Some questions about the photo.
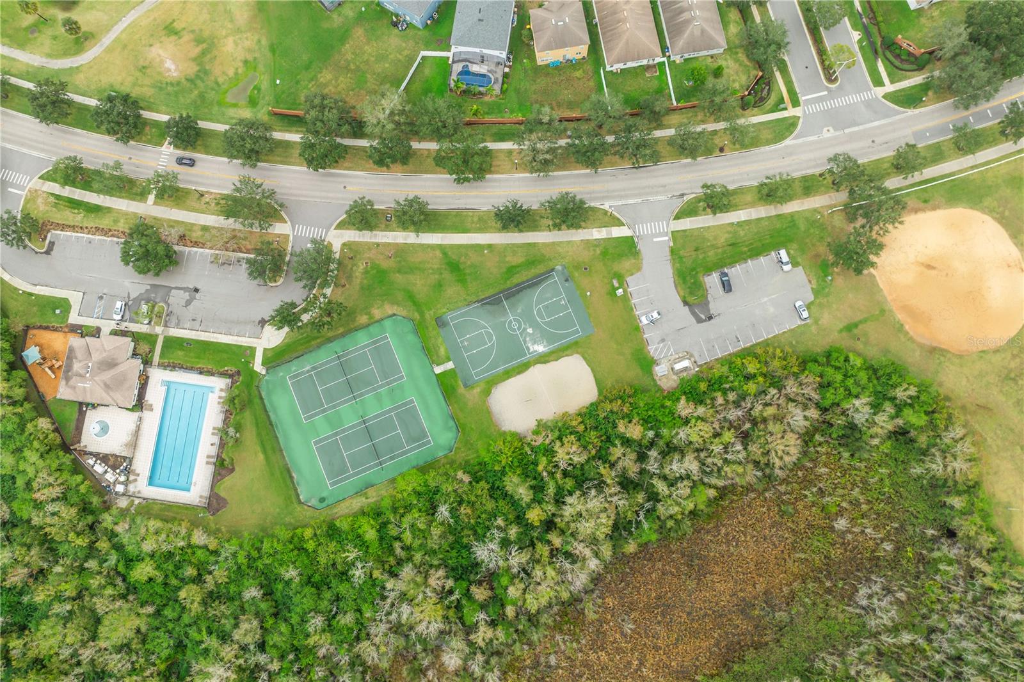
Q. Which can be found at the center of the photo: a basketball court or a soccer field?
basketball court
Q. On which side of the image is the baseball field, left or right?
right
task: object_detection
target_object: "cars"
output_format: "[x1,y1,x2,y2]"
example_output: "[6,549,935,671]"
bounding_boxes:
[720,271,733,292]
[777,248,792,270]
[795,299,811,321]
[173,154,195,166]
[640,310,662,324]
[112,299,125,320]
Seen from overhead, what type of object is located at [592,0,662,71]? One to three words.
house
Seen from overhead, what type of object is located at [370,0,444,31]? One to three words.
house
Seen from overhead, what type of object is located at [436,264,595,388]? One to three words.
basketball court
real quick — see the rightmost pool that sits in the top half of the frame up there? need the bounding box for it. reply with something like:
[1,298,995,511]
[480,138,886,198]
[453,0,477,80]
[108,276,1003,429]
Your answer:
[456,63,493,87]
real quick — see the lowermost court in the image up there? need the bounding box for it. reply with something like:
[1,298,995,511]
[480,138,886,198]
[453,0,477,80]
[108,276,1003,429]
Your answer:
[312,397,433,489]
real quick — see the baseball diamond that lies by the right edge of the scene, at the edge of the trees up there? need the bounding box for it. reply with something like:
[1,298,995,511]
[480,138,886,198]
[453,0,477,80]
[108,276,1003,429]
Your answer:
[872,208,1024,354]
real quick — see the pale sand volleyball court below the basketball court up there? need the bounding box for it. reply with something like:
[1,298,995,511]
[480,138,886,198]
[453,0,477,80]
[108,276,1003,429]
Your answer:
[487,353,599,435]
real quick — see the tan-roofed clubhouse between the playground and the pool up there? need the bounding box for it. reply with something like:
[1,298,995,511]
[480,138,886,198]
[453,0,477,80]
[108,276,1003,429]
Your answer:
[56,335,146,408]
